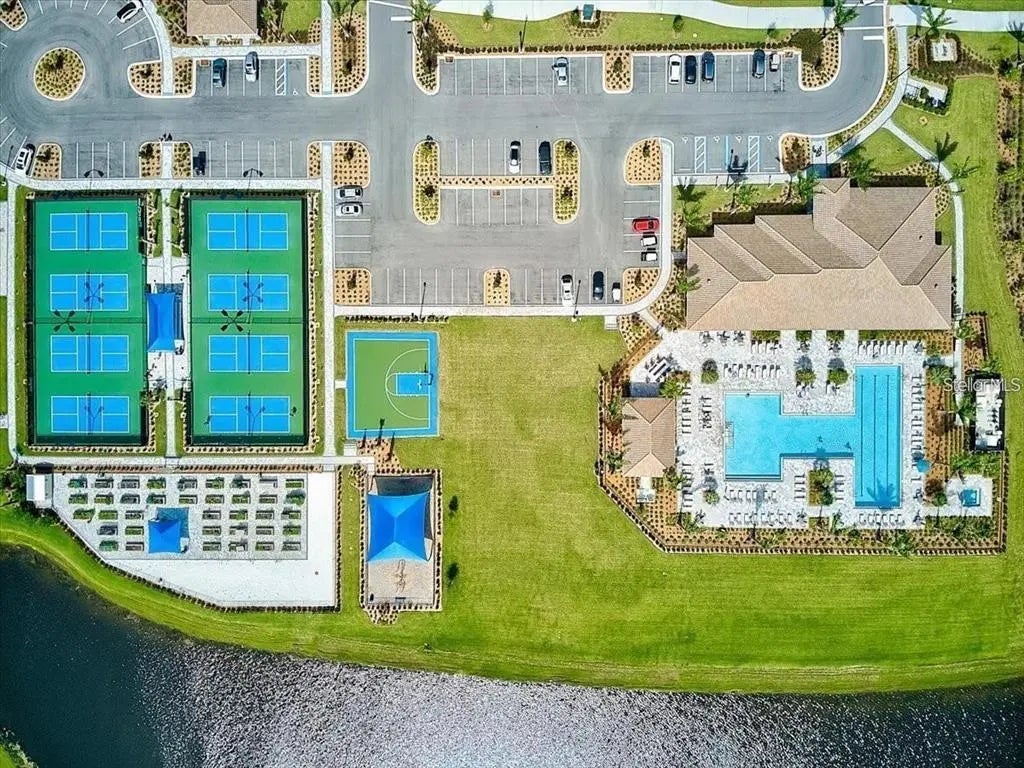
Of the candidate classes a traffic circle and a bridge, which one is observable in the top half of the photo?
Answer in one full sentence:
Visible in the top half of the photo is a traffic circle.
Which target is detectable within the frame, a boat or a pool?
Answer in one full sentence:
This aerial view contains a pool.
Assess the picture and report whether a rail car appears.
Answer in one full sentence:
No, the picture doesn't show any rail car.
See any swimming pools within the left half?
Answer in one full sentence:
No, looking within the left half, there is no swimming pool.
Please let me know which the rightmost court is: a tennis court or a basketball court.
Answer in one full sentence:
Looking closely, the rightmost court is a basketball court.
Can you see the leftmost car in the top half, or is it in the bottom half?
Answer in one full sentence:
The top half of the photo is where the leftmost car is.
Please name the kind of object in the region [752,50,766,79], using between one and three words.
car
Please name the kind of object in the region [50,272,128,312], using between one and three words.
sports court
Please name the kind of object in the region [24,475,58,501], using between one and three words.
shed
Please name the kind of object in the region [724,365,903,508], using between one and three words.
swimming pool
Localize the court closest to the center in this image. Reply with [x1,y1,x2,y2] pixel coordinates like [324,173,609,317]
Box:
[345,331,439,439]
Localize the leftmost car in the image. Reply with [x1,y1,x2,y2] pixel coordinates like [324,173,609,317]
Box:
[13,144,37,172]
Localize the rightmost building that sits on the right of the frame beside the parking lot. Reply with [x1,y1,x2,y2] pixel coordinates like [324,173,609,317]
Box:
[686,178,952,330]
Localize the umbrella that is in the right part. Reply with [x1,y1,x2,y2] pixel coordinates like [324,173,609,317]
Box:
[912,458,929,472]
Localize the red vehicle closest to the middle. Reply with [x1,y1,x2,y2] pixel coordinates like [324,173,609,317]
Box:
[631,220,659,232]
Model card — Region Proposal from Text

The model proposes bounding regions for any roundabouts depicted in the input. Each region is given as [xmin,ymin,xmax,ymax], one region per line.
[33,46,85,100]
